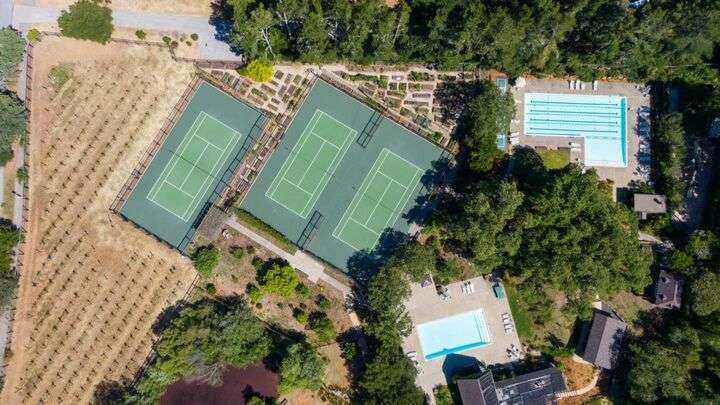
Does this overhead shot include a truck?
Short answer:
No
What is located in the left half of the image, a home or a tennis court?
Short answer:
tennis court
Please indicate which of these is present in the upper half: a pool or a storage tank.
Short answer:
pool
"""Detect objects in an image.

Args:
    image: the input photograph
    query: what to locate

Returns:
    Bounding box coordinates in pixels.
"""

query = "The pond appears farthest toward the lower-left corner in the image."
[146,349,283,405]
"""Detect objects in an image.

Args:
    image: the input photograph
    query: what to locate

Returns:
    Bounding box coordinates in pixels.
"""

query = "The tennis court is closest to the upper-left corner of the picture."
[120,81,262,252]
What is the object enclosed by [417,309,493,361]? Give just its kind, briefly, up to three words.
swimming pool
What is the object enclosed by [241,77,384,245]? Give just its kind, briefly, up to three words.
tennis court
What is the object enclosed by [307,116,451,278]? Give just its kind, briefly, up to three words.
tennis court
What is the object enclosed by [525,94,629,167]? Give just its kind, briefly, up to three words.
swimming pool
